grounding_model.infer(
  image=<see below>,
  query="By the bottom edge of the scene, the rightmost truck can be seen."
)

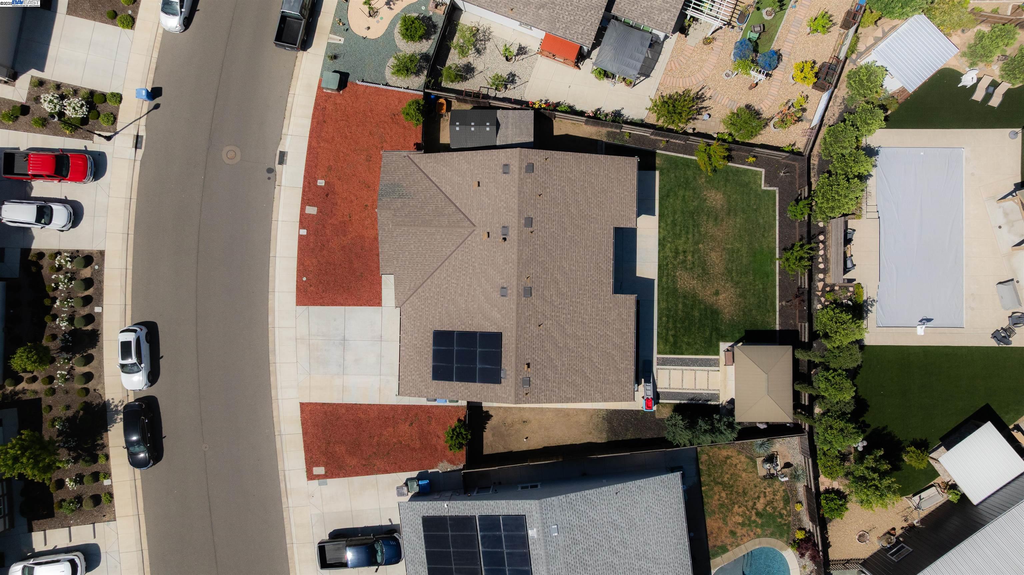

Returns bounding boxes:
[316,533,403,573]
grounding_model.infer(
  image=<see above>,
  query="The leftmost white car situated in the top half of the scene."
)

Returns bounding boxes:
[0,199,76,232]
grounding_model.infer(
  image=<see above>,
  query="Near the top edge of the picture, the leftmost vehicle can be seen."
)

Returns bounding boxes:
[157,0,192,35]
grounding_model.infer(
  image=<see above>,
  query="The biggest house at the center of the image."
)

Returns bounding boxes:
[378,149,640,404]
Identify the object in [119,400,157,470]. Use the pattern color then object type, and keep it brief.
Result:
black car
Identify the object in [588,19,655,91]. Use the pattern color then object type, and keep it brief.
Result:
gray gazebo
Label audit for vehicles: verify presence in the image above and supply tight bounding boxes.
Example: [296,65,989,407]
[274,0,315,56]
[113,325,151,392]
[119,400,157,470]
[8,552,90,575]
[316,533,403,573]
[0,199,76,232]
[157,0,192,35]
[0,147,96,183]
